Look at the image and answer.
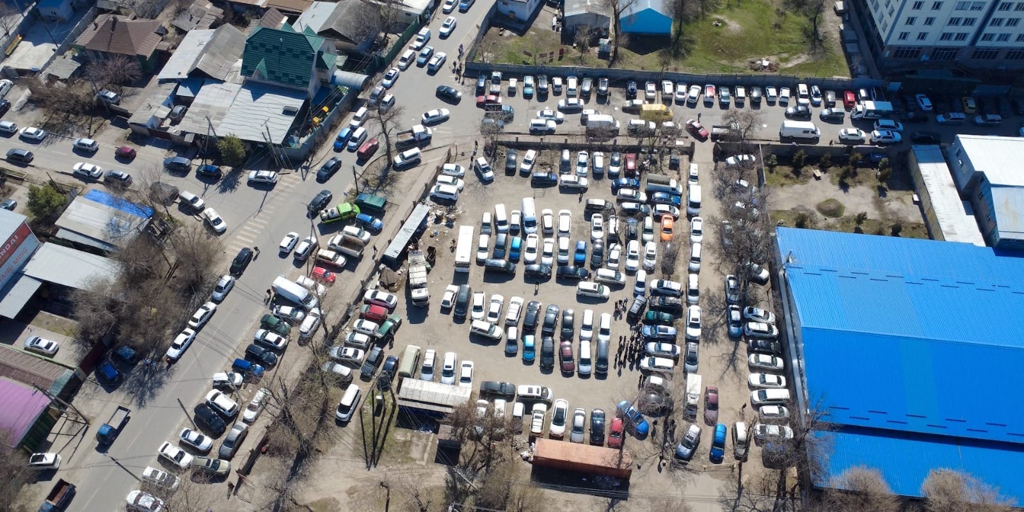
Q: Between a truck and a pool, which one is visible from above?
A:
truck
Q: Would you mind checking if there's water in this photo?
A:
No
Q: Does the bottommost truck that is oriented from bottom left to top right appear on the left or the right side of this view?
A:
left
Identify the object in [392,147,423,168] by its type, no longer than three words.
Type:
car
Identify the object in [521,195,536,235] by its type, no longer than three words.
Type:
vehicle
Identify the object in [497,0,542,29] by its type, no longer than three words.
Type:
house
